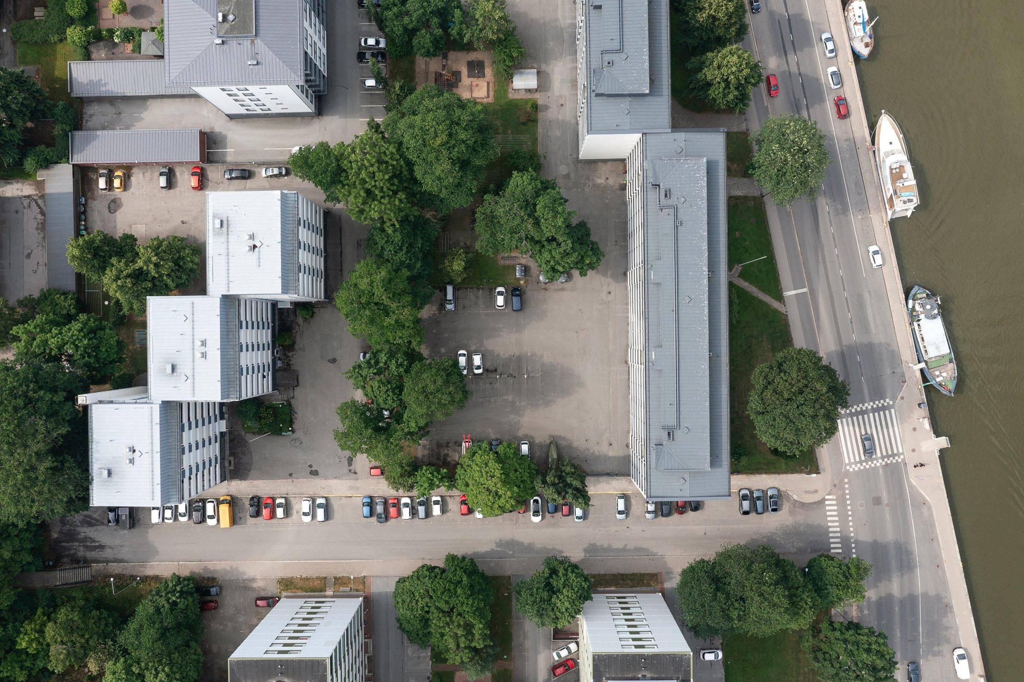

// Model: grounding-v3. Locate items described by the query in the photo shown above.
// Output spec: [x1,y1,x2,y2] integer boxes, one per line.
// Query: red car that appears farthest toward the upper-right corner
[834,95,848,119]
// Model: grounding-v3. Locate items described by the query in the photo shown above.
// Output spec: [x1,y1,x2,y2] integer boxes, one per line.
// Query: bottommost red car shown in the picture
[551,658,575,677]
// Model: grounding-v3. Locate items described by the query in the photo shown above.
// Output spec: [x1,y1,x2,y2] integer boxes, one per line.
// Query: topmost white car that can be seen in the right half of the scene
[820,32,834,58]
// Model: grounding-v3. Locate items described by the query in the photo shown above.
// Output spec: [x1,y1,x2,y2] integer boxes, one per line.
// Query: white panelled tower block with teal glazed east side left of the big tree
[228,599,363,682]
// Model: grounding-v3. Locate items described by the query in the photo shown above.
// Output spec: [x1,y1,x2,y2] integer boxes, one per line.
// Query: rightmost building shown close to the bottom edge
[578,595,691,682]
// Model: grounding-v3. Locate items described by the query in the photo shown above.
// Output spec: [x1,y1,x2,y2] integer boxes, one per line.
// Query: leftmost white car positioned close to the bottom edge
[553,642,579,660]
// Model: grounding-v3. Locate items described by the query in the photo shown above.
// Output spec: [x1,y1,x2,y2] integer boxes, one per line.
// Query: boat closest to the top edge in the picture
[844,0,882,60]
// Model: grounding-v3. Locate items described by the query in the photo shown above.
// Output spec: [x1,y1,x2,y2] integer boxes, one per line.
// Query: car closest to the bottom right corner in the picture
[952,647,973,681]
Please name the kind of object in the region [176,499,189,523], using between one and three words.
vehicle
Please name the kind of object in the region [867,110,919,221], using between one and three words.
boat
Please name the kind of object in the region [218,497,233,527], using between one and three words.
vehicle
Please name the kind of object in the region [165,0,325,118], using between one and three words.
building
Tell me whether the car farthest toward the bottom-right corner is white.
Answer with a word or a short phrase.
Yes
